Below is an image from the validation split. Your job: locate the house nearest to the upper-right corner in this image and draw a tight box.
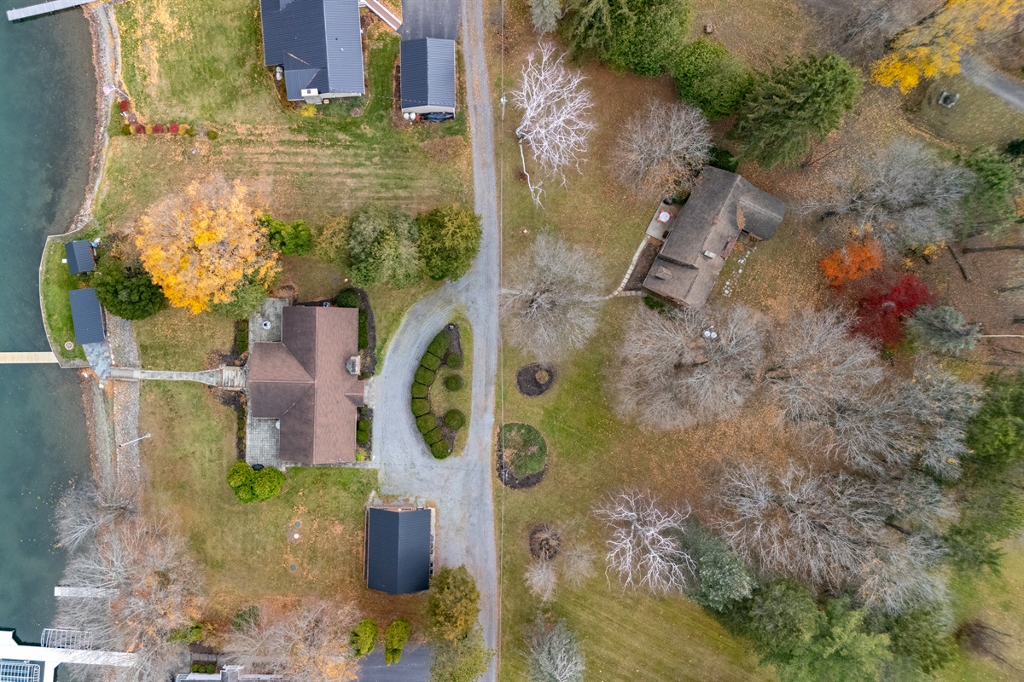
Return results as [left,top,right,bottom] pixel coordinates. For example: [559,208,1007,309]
[642,165,786,308]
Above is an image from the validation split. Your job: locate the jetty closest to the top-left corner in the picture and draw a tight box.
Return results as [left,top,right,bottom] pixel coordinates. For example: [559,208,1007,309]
[4,0,100,23]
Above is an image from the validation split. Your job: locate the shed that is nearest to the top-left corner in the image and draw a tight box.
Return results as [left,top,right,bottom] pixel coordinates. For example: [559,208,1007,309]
[65,240,97,274]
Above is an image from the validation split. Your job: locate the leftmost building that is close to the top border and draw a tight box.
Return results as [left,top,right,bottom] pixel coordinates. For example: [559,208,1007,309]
[259,0,367,107]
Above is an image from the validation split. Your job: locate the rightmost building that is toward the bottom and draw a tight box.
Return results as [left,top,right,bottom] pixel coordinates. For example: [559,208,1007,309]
[367,504,433,595]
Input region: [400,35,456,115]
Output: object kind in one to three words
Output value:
building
